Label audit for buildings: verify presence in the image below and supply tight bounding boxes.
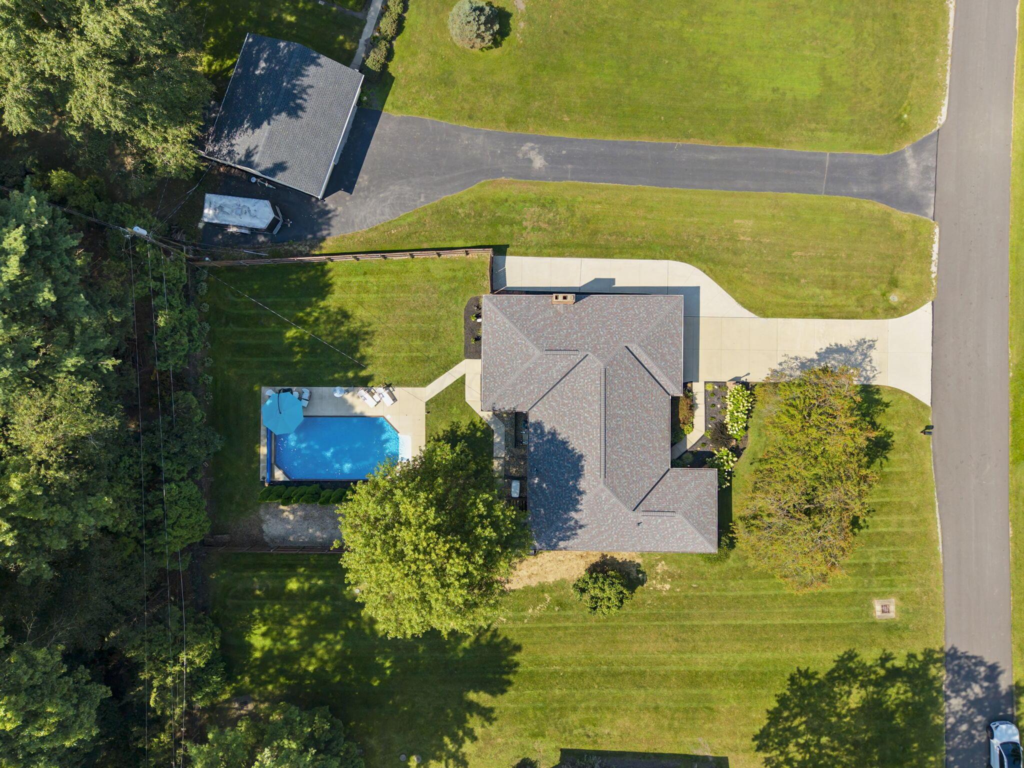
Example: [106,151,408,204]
[480,293,719,555]
[204,33,366,199]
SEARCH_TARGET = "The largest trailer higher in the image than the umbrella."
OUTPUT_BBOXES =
[202,193,299,235]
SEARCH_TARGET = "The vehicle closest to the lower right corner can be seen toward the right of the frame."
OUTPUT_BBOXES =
[985,721,1023,768]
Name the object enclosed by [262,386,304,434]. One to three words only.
umbrella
